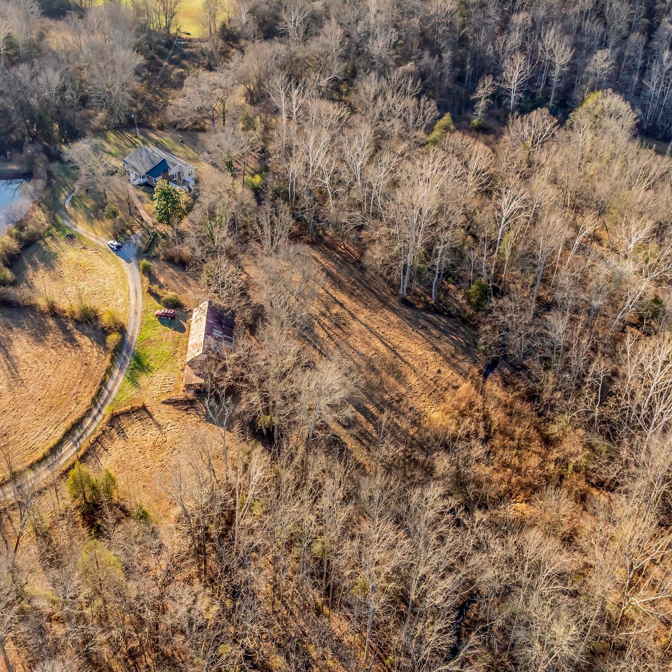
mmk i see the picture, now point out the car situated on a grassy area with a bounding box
[154,309,177,322]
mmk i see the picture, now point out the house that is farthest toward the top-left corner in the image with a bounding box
[120,144,200,190]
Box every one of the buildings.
[180,296,239,398]
[120,144,200,190]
